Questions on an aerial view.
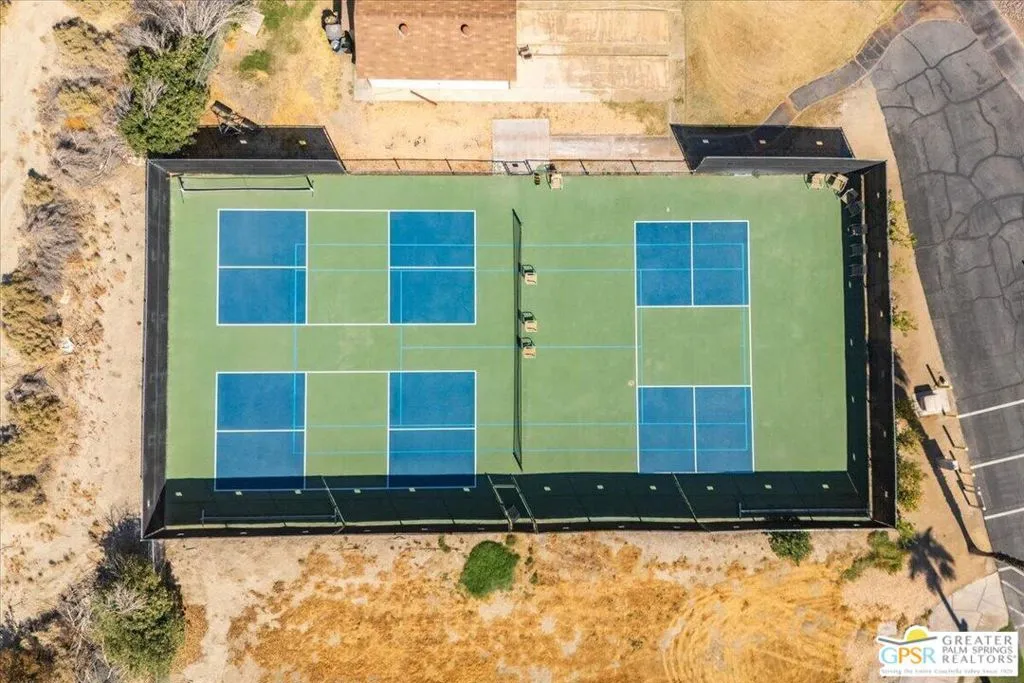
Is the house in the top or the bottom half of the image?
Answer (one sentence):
The house is in the top half of the image.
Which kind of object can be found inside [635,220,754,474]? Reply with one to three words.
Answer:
sports court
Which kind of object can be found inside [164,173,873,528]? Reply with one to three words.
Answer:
tennis court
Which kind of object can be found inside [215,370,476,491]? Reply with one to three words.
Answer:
sports court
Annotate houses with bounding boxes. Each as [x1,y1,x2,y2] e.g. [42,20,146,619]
[353,0,518,91]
